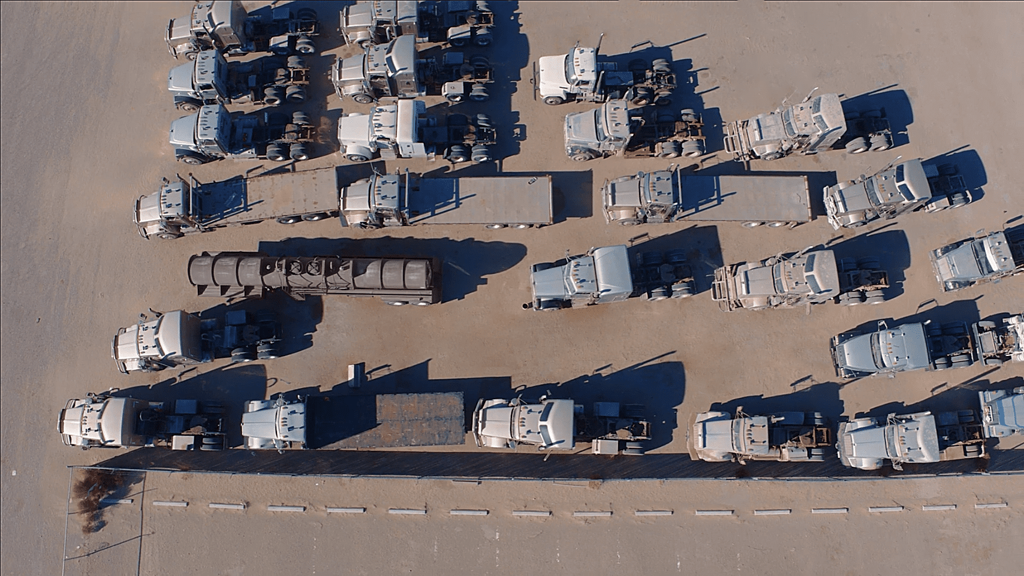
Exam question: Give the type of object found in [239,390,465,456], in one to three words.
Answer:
truck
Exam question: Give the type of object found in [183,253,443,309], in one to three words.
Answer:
trailer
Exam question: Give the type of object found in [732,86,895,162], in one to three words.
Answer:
truck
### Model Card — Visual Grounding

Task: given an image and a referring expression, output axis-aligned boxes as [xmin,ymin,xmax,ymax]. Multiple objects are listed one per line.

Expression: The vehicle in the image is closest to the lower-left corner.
[54,388,231,455]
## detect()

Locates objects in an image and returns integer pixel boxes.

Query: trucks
[331,30,497,104]
[339,0,498,52]
[684,403,834,470]
[527,245,698,311]
[239,390,465,456]
[54,388,231,455]
[530,27,679,108]
[561,92,708,160]
[170,96,319,163]
[338,163,555,230]
[337,96,499,163]
[170,43,313,112]
[109,309,286,373]
[600,160,814,227]
[817,154,980,231]
[833,408,995,475]
[163,0,323,62]
[971,379,1024,439]
[718,246,892,312]
[824,321,983,385]
[928,228,1024,294]
[732,86,895,162]
[471,390,654,457]
[132,165,341,240]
